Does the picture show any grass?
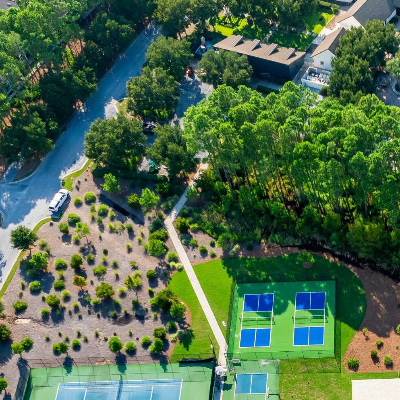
Yes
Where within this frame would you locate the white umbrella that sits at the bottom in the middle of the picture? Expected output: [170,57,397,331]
[214,365,229,378]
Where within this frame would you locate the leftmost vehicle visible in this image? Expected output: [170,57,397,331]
[51,191,70,211]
